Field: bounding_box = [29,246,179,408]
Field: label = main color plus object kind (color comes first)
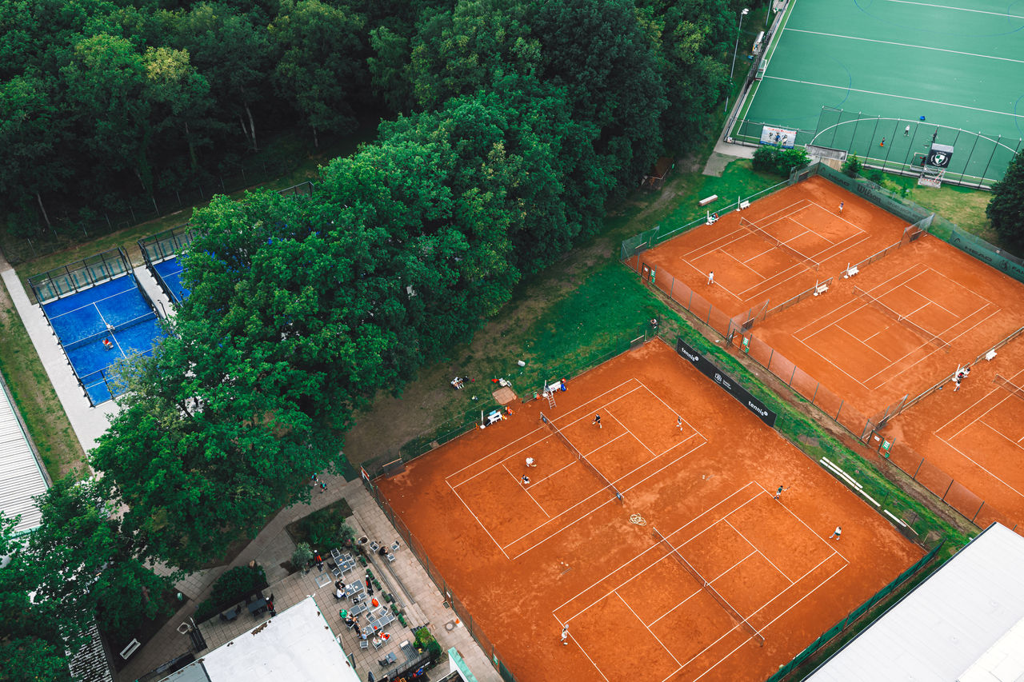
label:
blue sports court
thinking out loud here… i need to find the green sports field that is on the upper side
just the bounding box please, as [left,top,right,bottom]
[728,0,1024,188]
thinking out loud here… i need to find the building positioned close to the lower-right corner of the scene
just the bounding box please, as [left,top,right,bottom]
[801,522,1024,682]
